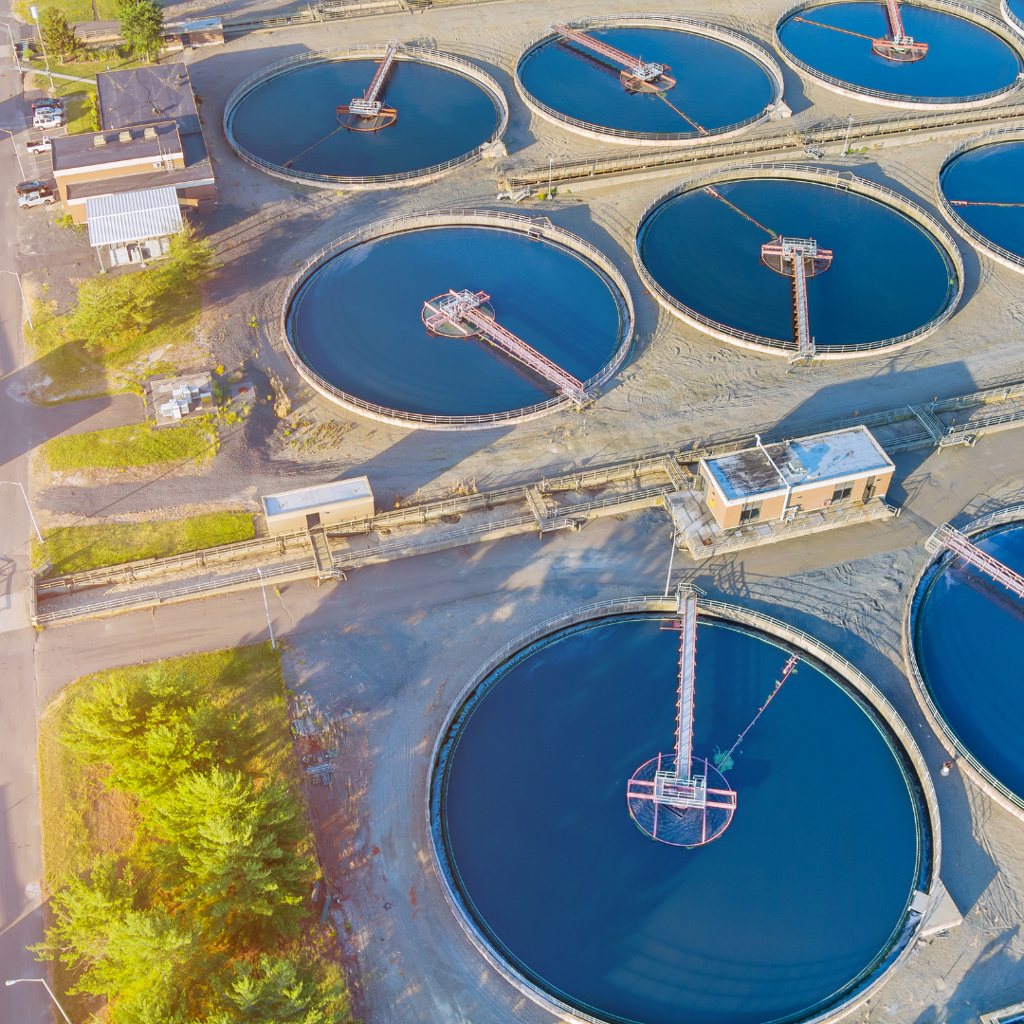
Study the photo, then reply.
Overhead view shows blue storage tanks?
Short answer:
Yes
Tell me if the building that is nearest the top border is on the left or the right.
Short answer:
left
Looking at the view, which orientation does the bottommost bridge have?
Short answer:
vertically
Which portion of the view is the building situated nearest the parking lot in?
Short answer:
top left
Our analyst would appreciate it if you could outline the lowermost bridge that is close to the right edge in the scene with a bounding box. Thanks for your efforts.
[912,524,1024,601]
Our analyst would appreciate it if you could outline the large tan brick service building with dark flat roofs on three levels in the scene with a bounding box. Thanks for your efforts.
[51,63,223,225]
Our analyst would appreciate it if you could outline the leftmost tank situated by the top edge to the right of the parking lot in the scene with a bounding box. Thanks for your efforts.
[221,35,508,190]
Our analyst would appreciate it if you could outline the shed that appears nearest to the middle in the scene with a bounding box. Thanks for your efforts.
[260,472,375,529]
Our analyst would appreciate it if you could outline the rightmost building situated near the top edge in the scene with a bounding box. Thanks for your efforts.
[154,16,225,51]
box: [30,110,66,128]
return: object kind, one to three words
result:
car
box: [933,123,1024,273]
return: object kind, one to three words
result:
storage tank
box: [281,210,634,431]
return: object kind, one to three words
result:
storage tank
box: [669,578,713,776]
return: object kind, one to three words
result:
bridge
